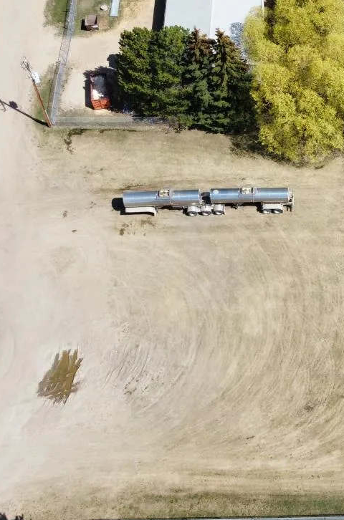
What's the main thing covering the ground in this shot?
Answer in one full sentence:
For the most part, this view shows paved ground.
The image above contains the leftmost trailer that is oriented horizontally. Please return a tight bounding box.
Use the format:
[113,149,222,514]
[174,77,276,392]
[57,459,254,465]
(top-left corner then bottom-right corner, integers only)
[121,183,224,216]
